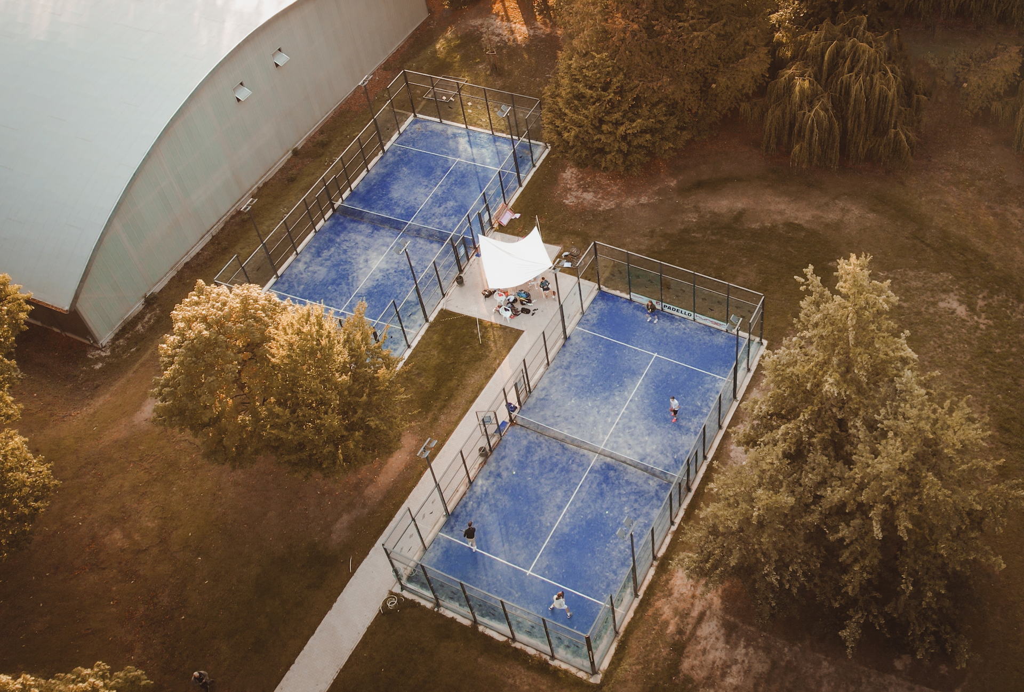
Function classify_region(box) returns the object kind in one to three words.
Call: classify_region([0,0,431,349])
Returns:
building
